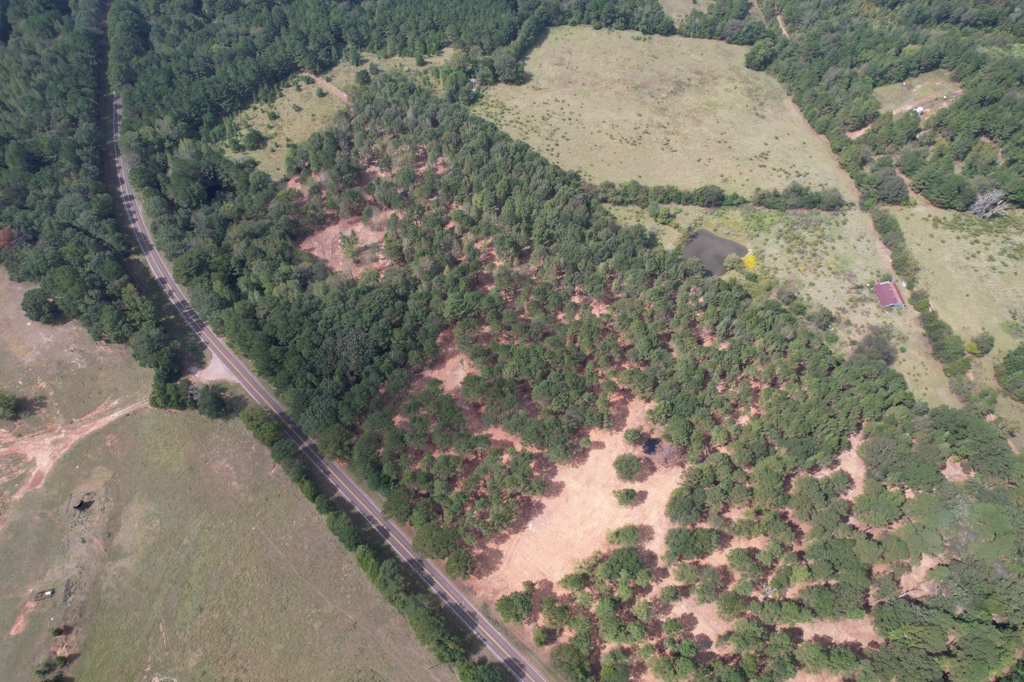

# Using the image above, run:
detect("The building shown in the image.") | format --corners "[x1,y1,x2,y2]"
[870,284,910,309]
